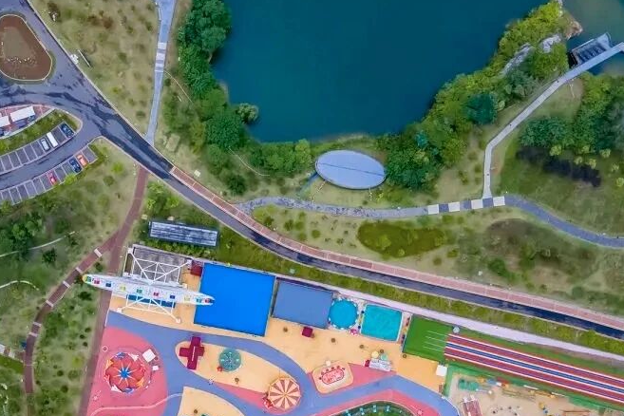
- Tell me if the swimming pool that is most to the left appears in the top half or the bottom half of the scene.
bottom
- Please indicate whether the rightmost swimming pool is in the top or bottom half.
bottom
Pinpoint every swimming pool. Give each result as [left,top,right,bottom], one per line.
[361,305,403,341]
[330,299,360,329]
